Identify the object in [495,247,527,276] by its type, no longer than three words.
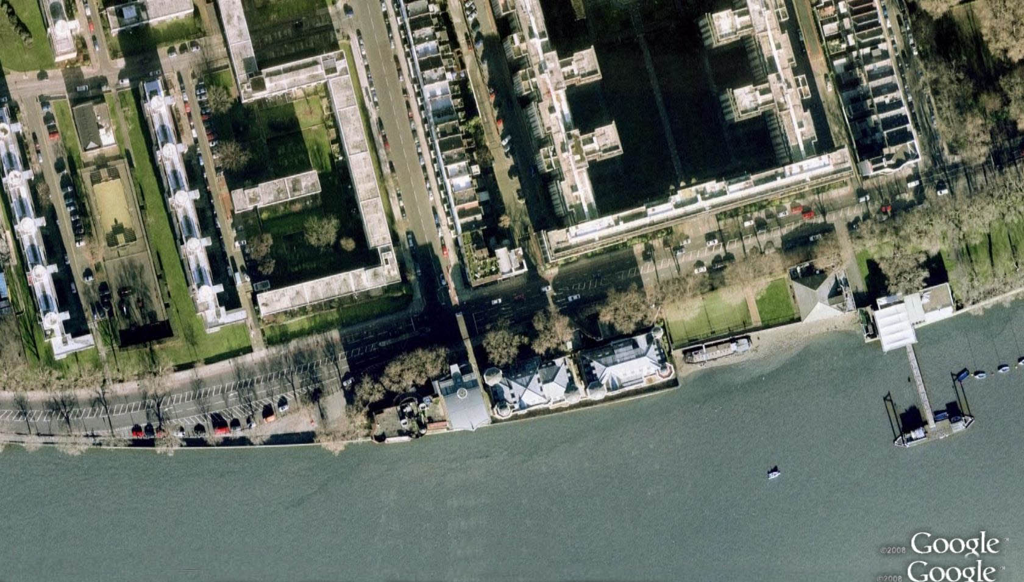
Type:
building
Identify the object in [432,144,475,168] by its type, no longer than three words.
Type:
house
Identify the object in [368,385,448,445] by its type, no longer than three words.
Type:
building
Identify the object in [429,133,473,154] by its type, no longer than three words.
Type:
house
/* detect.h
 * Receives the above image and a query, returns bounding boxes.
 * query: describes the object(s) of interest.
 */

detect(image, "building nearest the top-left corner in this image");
[37,0,80,68]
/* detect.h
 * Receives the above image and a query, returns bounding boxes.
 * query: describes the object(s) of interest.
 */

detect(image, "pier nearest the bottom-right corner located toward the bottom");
[894,417,974,448]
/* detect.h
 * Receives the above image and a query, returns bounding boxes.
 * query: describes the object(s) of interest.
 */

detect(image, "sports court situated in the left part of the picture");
[81,160,152,261]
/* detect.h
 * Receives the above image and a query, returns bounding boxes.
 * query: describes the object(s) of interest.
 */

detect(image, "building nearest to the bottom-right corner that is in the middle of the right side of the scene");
[873,283,953,352]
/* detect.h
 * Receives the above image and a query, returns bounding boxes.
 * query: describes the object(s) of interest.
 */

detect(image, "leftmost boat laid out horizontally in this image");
[683,336,752,364]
